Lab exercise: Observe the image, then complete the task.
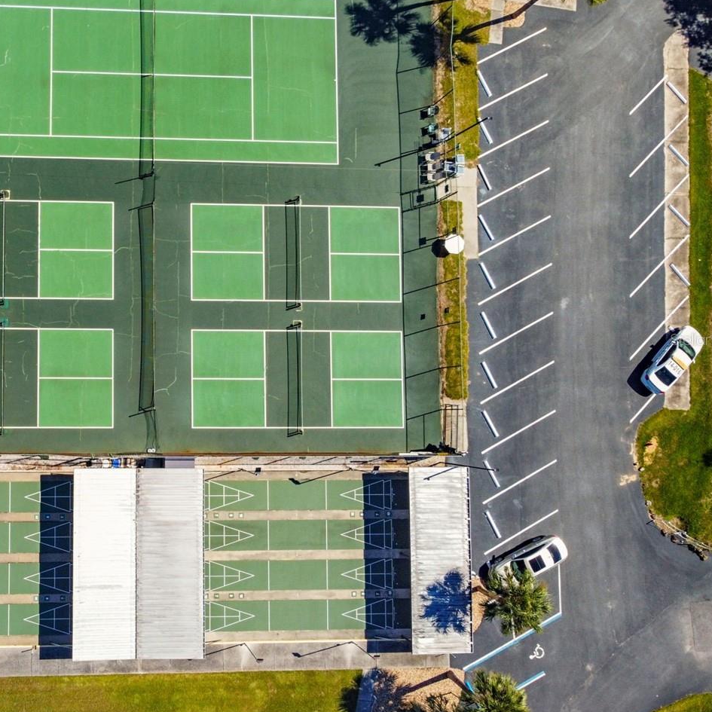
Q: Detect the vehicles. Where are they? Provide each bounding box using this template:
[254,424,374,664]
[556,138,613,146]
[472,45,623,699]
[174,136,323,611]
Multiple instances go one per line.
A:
[643,327,701,394]
[491,534,567,583]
